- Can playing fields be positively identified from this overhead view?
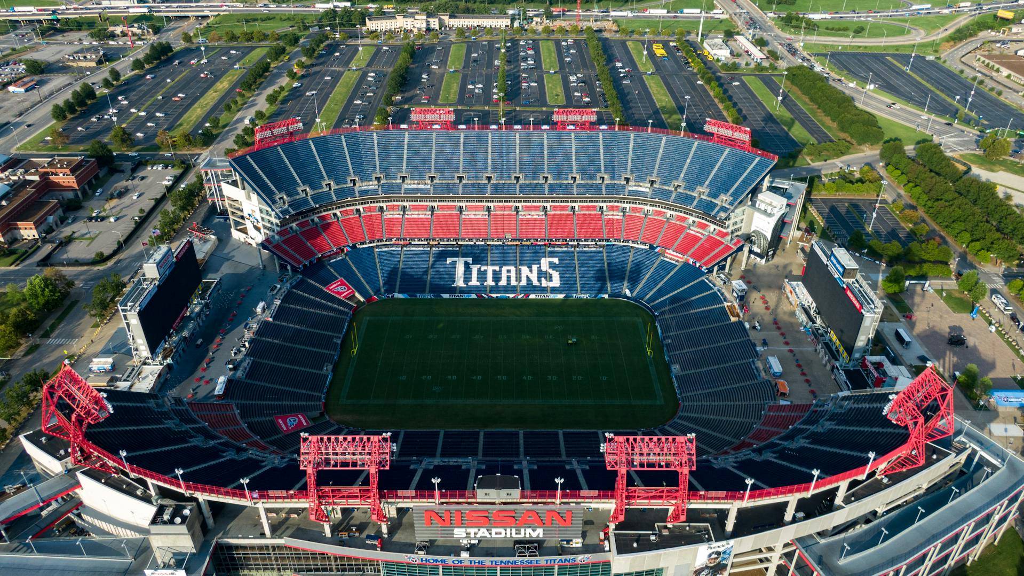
Yes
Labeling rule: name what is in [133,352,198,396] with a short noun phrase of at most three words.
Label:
building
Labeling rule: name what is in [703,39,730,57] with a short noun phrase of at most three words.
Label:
building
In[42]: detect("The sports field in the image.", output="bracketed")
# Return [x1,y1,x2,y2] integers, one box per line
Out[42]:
[323,299,680,428]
